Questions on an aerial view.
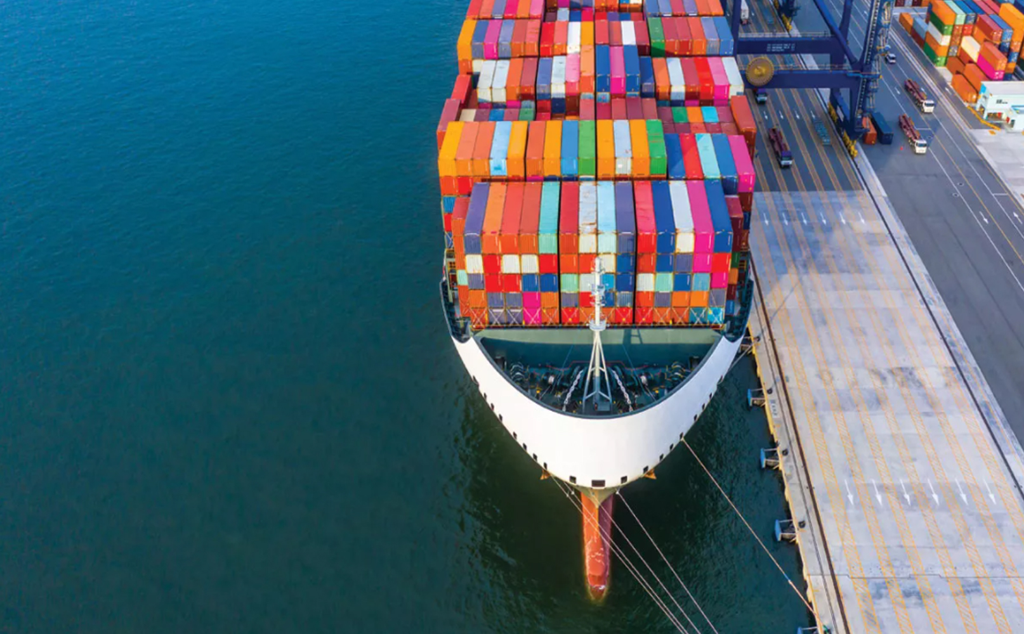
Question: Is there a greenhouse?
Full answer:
No, the picture doesn't show any greenhouse.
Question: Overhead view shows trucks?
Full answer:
Yes, this view includes a truck.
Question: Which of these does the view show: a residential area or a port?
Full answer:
What you see here is a port.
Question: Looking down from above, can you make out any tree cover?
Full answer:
No, there is no tree cover in the image.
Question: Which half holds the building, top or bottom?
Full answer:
The building is in the top half of the image.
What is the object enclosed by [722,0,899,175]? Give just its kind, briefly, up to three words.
container crane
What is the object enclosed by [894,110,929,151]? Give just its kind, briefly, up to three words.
truck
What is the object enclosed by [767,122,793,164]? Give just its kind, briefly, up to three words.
truck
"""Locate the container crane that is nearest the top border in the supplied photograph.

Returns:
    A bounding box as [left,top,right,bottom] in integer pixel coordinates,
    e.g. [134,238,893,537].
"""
[771,0,803,35]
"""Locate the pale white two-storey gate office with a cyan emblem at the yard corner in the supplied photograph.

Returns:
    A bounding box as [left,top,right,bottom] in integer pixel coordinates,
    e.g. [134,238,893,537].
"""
[980,77,1024,132]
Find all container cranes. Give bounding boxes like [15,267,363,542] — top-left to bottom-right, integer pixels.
[722,0,899,175]
[771,0,803,35]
